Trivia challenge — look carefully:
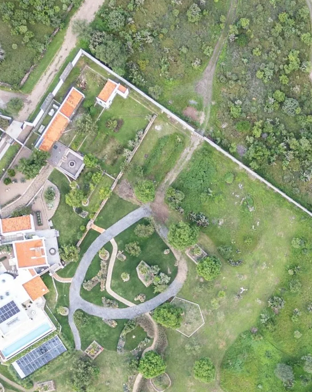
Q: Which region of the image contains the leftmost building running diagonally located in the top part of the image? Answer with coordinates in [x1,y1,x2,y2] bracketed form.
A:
[34,87,85,154]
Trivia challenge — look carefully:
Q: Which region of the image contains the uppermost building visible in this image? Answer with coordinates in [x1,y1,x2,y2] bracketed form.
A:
[95,79,128,107]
